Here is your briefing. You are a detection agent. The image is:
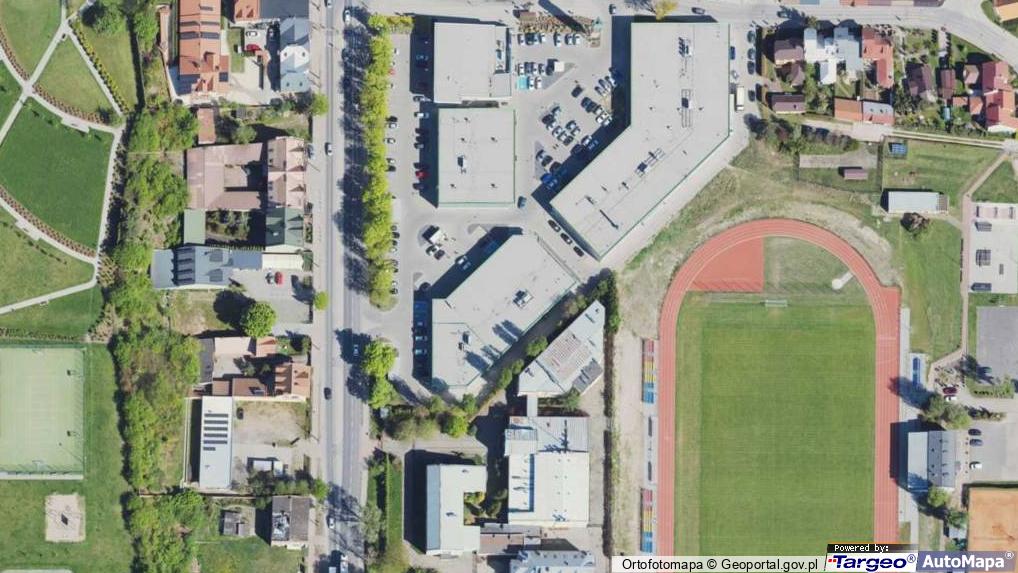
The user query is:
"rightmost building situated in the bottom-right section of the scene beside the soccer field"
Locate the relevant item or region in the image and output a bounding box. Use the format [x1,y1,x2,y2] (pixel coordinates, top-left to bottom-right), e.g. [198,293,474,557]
[908,430,955,494]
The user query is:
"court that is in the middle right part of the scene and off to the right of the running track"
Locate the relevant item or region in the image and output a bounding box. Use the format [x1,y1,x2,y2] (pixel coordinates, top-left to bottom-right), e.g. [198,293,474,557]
[977,306,1018,384]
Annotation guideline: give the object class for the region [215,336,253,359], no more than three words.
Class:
barn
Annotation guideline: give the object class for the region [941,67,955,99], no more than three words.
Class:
house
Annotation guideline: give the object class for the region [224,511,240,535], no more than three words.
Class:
shed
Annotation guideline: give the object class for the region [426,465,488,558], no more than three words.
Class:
building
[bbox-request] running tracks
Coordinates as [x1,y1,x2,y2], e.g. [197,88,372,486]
[658,220,900,573]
